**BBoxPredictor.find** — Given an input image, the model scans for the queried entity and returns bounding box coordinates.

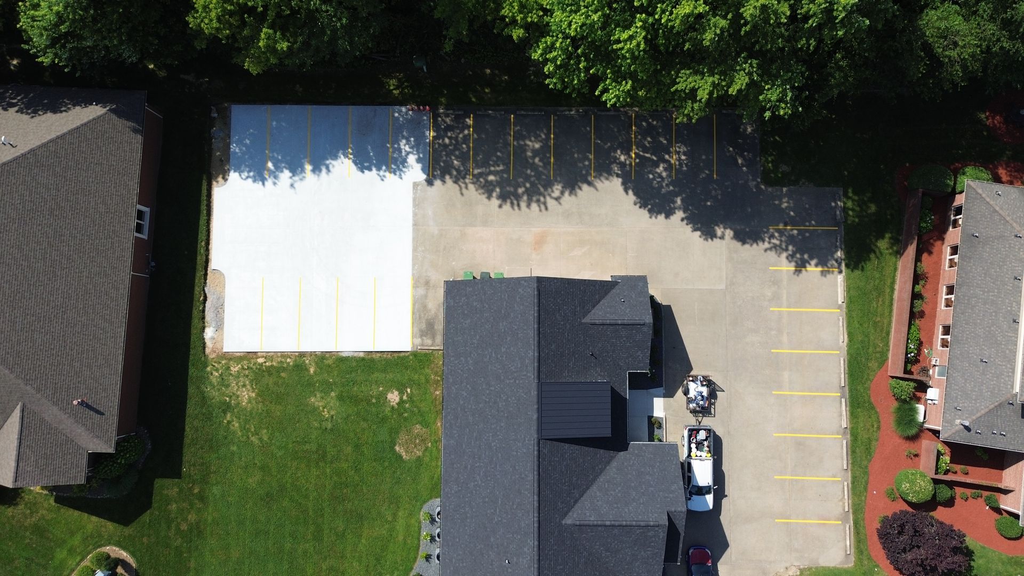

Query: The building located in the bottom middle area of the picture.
[439,274,686,576]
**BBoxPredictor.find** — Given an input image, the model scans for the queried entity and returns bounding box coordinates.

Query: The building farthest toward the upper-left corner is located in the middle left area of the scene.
[0,83,162,487]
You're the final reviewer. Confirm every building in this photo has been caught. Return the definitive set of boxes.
[0,83,162,487]
[439,274,686,576]
[924,179,1024,526]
